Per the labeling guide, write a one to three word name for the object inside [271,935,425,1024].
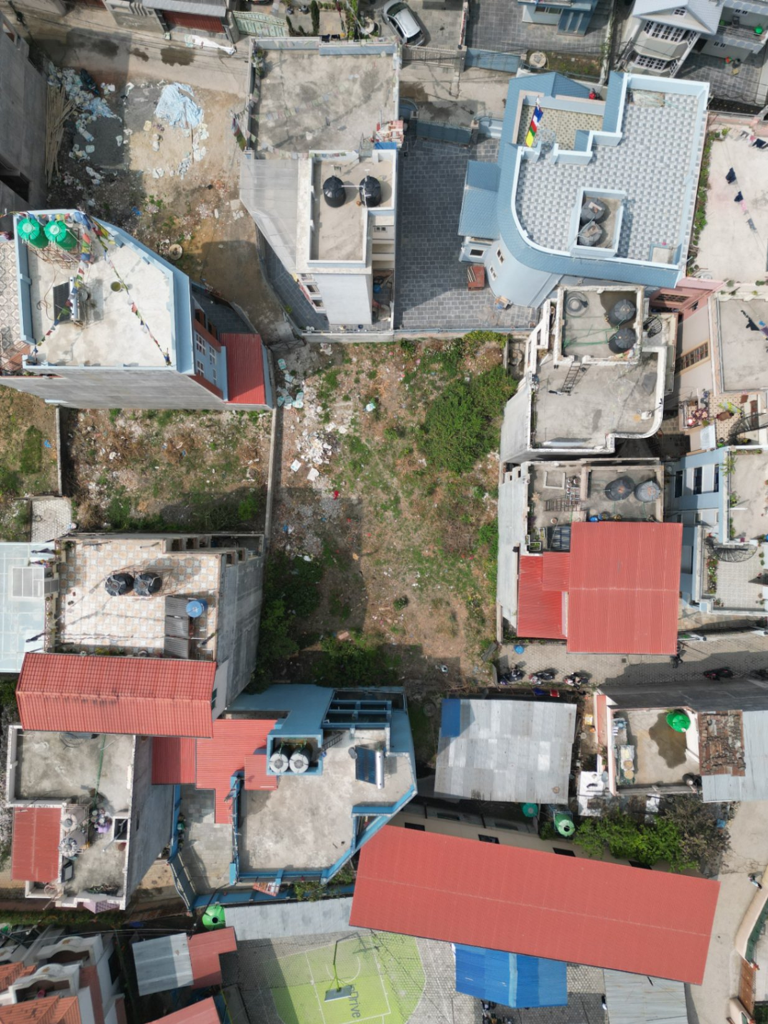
sports court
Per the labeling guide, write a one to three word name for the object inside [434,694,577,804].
shed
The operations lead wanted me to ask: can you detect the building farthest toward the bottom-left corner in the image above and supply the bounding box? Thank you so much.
[0,913,140,1024]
